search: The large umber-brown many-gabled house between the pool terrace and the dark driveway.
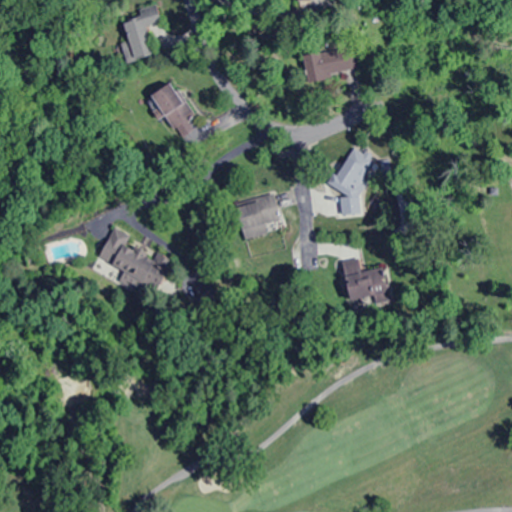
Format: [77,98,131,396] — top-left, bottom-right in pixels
[96,224,170,290]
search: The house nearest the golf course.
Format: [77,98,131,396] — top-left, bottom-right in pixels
[342,258,392,306]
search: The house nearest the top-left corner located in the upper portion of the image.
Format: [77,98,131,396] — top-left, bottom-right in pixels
[122,4,160,62]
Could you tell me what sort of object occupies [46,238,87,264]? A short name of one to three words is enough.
swimming pool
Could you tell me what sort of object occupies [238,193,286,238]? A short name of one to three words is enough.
house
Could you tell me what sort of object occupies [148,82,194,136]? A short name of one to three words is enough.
house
